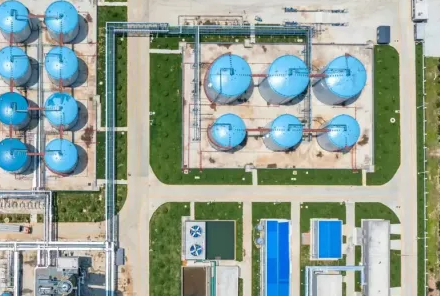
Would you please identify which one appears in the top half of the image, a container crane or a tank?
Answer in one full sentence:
You can see a tank in the top half of the image.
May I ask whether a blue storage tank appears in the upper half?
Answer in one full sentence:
Yes, looking in the upper half, one can make out a blue storage tank.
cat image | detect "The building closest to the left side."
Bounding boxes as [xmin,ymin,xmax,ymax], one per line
[56,255,81,270]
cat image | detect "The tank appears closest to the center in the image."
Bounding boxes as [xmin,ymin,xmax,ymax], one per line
[206,114,245,152]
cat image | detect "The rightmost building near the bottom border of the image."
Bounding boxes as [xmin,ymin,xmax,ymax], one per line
[360,219,390,296]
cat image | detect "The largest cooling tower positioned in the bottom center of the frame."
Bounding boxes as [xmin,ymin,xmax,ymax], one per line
[184,221,206,259]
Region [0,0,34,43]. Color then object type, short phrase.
blue storage tank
